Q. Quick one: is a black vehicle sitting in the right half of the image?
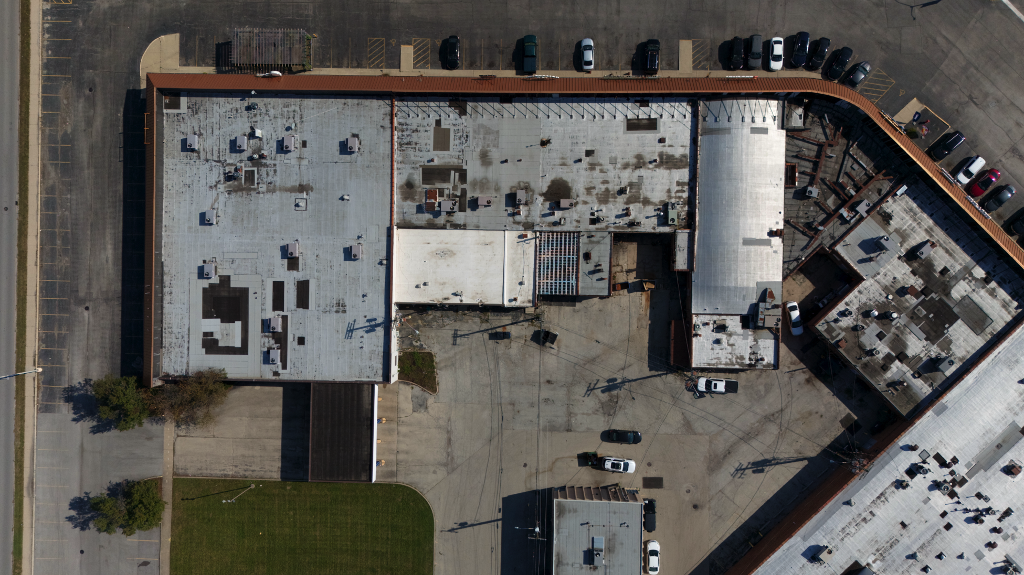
Yes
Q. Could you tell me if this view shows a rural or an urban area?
urban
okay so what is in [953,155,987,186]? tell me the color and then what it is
white car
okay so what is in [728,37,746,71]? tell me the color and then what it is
black car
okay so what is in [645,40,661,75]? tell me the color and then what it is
black car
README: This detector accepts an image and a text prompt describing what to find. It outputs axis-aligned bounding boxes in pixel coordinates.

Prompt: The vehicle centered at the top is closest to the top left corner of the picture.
[444,35,460,71]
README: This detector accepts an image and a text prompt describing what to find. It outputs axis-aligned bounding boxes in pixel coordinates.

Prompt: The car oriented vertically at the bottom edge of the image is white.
[644,538,661,574]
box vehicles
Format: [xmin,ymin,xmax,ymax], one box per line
[579,38,595,73]
[606,428,641,444]
[783,300,802,335]
[696,377,738,394]
[930,131,965,163]
[806,37,830,72]
[953,155,987,186]
[982,184,1016,215]
[1007,213,1024,241]
[789,31,810,69]
[843,60,871,91]
[645,40,661,75]
[642,497,658,533]
[728,37,746,71]
[826,46,852,82]
[967,169,1001,199]
[444,35,460,71]
[767,37,784,73]
[601,455,636,474]
[644,538,661,574]
[521,35,538,76]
